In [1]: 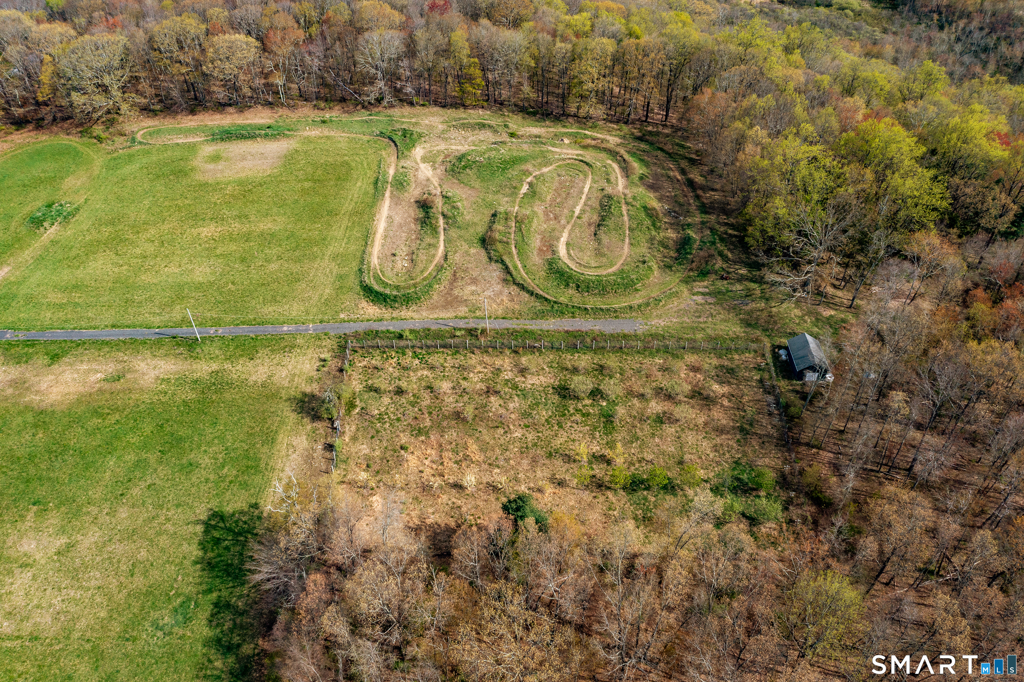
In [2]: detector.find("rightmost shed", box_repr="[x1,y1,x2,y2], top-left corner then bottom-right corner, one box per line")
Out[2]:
[787,332,830,378]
